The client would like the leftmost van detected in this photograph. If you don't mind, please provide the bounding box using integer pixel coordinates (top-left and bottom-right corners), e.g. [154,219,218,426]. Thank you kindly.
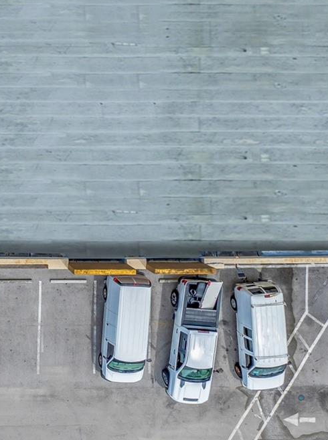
[100,276,157,384]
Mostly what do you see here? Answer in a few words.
buildings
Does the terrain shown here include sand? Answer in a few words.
No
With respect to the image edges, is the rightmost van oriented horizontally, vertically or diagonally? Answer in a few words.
vertically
